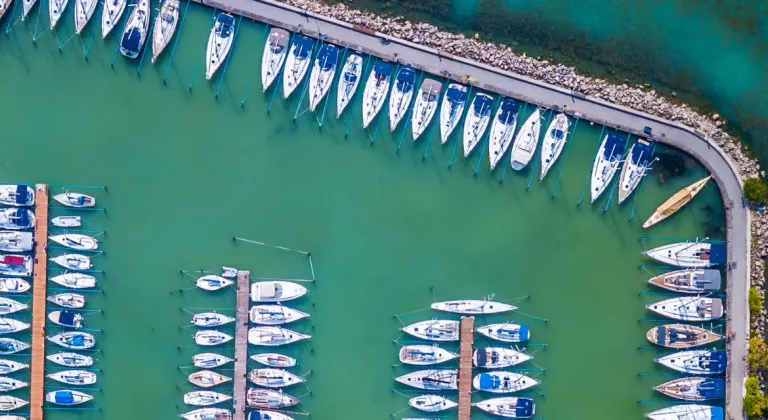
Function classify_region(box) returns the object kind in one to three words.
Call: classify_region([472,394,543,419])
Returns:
boat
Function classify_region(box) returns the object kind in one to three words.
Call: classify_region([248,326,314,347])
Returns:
boat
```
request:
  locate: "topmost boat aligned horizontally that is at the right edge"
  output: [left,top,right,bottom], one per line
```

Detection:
[641,238,733,269]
